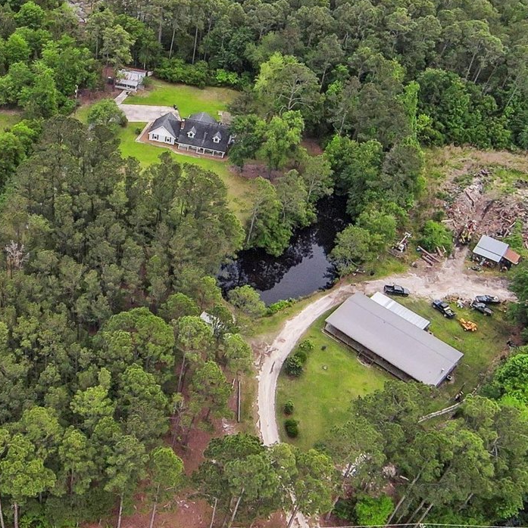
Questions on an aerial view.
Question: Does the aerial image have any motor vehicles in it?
Yes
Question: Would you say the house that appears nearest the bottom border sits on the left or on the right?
right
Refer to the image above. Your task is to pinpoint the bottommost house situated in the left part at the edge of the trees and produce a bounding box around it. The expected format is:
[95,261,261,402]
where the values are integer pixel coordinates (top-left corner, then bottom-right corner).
[147,110,230,159]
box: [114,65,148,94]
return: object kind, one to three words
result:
shed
